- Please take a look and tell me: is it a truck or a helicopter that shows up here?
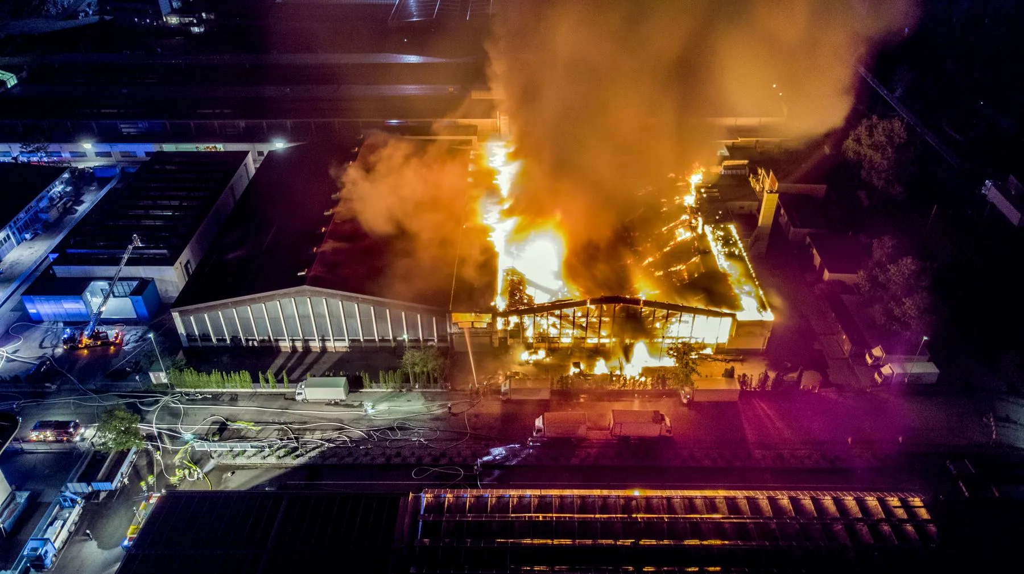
truck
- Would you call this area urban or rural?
urban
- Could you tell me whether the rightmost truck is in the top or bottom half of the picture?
top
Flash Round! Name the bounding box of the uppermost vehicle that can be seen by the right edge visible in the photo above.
[975,175,1024,219]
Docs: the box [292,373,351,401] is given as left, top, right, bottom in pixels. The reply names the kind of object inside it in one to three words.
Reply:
truck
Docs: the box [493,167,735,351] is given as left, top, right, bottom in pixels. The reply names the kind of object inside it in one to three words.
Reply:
building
